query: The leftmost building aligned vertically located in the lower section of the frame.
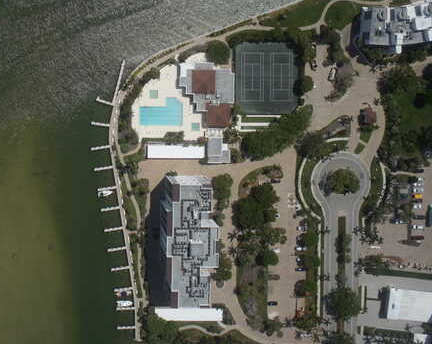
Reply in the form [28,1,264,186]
[157,177,218,308]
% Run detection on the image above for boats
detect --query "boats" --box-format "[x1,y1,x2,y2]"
[114,292,132,297]
[96,191,112,197]
[115,301,133,307]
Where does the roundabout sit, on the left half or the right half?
right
